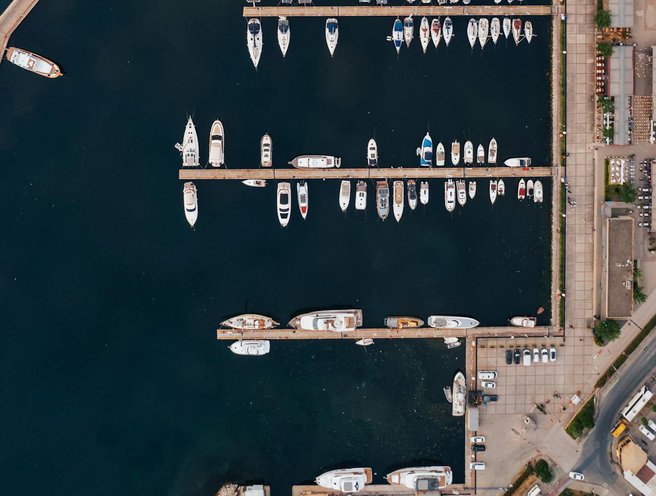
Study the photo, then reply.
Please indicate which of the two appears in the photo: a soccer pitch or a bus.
bus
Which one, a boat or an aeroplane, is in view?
boat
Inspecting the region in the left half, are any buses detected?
No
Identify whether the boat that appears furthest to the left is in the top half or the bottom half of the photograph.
top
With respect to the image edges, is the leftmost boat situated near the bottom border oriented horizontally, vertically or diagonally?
horizontally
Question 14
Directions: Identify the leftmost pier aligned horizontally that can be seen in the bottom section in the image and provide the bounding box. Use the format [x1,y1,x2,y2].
[218,326,466,340]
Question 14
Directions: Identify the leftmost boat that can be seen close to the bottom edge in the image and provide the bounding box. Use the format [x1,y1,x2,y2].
[317,465,371,492]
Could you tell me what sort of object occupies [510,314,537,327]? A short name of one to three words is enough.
boat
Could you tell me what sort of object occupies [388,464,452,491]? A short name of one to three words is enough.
boat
